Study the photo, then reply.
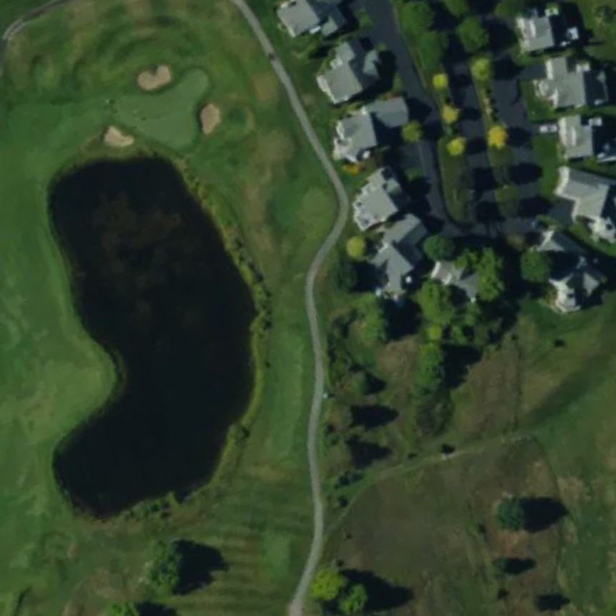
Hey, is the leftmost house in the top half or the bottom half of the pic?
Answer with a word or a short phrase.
top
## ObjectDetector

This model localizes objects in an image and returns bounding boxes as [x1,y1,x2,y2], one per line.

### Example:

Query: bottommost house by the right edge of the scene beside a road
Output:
[539,228,607,315]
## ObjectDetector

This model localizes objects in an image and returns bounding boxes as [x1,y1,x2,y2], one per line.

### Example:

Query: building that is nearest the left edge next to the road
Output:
[277,0,352,51]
